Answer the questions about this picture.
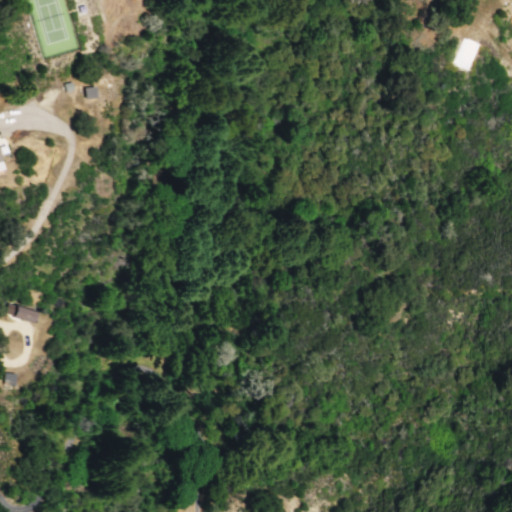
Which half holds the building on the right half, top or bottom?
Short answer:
top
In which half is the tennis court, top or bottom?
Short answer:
top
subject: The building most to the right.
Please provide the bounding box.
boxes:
[452,38,481,70]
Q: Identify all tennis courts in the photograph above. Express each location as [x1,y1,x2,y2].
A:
[28,0,78,58]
